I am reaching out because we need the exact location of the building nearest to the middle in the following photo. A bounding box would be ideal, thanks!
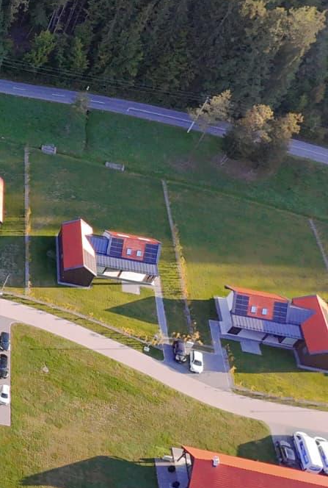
[55,219,161,295]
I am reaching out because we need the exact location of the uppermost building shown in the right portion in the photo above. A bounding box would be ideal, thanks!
[209,286,328,374]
